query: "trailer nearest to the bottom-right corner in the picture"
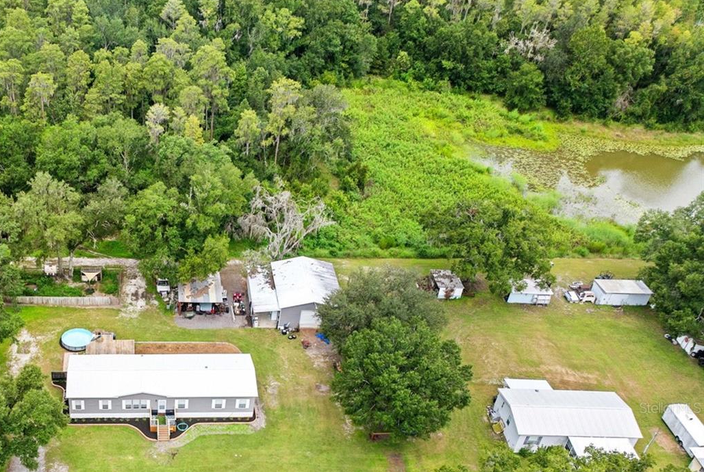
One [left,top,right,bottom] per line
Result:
[664,402,704,450]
